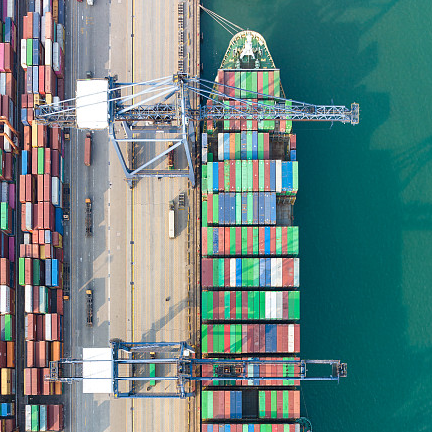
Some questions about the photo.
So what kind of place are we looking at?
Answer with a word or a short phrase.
port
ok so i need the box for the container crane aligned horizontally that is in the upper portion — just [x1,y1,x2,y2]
[34,65,358,198]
